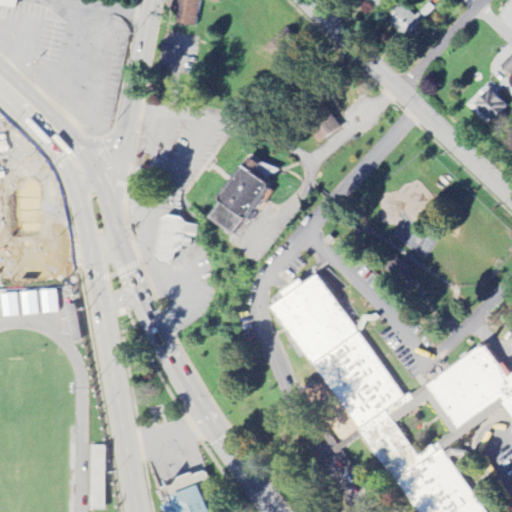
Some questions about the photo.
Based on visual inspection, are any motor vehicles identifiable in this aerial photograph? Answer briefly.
Yes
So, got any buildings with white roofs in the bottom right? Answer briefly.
Yes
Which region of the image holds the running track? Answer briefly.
bottom left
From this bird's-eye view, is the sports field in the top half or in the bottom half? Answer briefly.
bottom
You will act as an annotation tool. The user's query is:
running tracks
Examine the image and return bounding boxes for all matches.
[0,314,90,512]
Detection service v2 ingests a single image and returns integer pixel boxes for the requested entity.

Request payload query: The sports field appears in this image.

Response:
[0,330,75,512]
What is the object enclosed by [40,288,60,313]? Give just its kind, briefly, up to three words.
shed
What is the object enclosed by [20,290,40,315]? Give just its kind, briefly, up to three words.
shed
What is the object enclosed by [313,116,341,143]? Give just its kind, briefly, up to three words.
building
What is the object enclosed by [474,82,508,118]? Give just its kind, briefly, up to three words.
house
